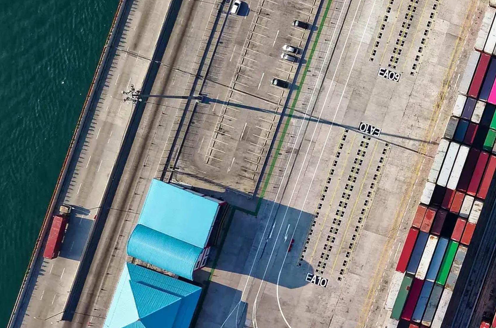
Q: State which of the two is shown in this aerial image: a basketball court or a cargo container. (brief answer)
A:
cargo container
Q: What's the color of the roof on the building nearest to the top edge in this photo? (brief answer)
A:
blue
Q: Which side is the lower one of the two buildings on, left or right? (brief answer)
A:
left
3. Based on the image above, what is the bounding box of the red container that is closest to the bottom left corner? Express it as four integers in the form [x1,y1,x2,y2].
[44,214,70,258]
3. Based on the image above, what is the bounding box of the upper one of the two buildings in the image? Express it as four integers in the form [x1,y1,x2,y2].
[127,177,230,279]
